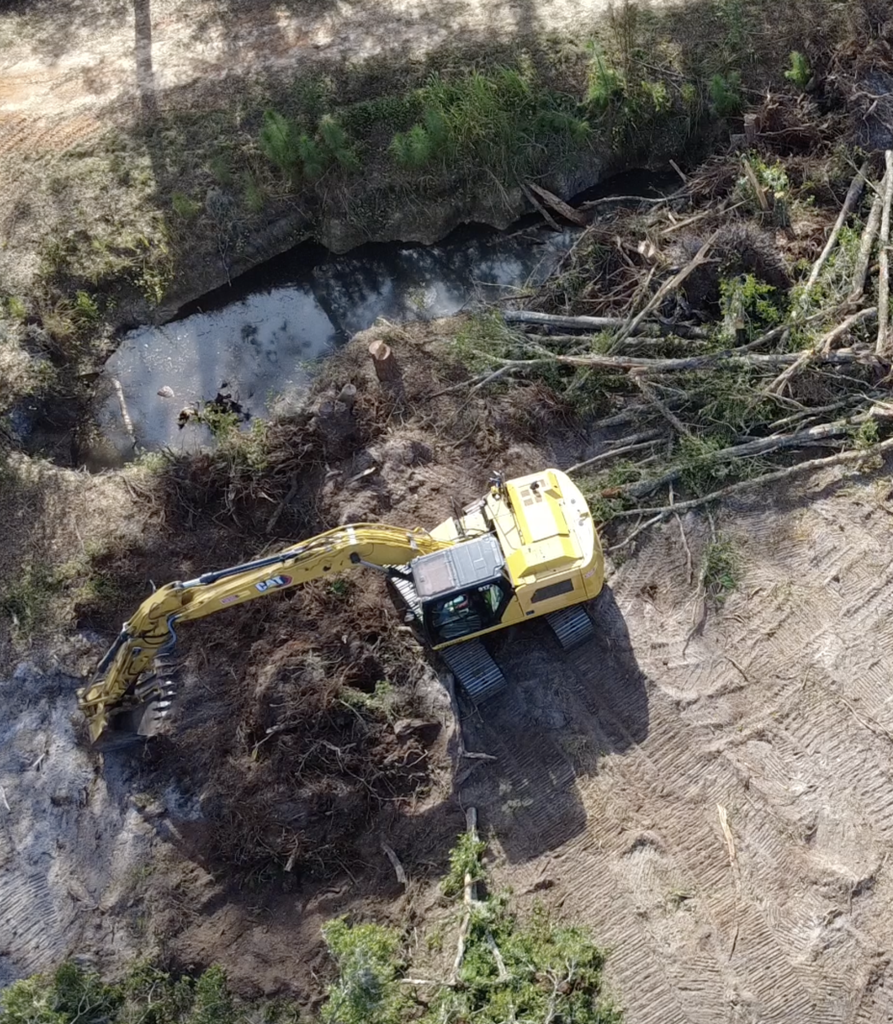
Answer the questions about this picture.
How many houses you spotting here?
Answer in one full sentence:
Not a single house can be seen.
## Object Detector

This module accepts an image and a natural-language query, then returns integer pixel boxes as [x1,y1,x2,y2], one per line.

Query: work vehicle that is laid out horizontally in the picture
[68,470,604,753]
